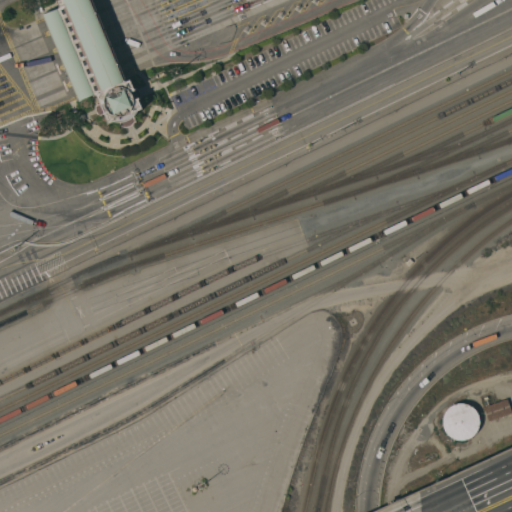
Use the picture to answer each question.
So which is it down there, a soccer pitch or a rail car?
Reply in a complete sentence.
I can see a rail car in this picture.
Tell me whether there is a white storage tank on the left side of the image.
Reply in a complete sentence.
No, looking on the left side of the image, there is no white storage tank.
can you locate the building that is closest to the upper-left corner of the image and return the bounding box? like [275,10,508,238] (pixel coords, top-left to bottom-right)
[44,0,124,102]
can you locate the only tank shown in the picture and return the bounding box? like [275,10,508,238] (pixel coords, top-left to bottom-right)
[442,404,480,442]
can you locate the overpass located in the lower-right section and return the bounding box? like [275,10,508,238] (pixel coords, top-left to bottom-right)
[371,449,512,512]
